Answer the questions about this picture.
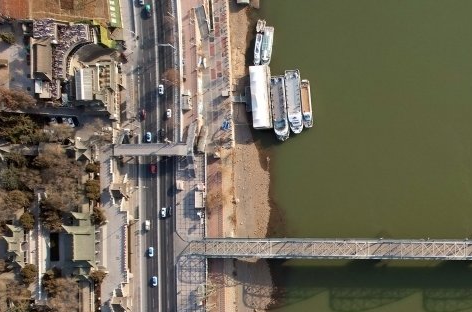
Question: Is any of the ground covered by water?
Yes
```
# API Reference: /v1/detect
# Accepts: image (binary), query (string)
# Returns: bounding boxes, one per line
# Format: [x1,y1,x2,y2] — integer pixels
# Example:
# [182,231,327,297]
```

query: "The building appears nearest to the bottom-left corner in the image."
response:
[0,223,28,268]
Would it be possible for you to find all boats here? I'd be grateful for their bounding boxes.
[270,74,289,141]
[254,33,262,65]
[300,80,313,127]
[260,26,272,65]
[284,69,302,133]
